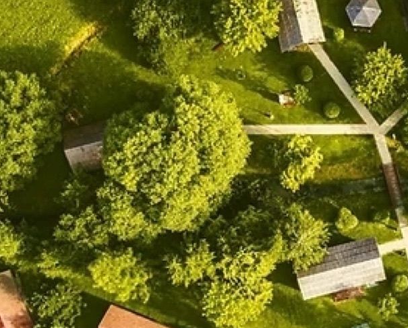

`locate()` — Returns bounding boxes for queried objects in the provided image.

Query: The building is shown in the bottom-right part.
[294,237,386,300]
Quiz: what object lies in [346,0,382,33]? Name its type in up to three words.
gazebo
